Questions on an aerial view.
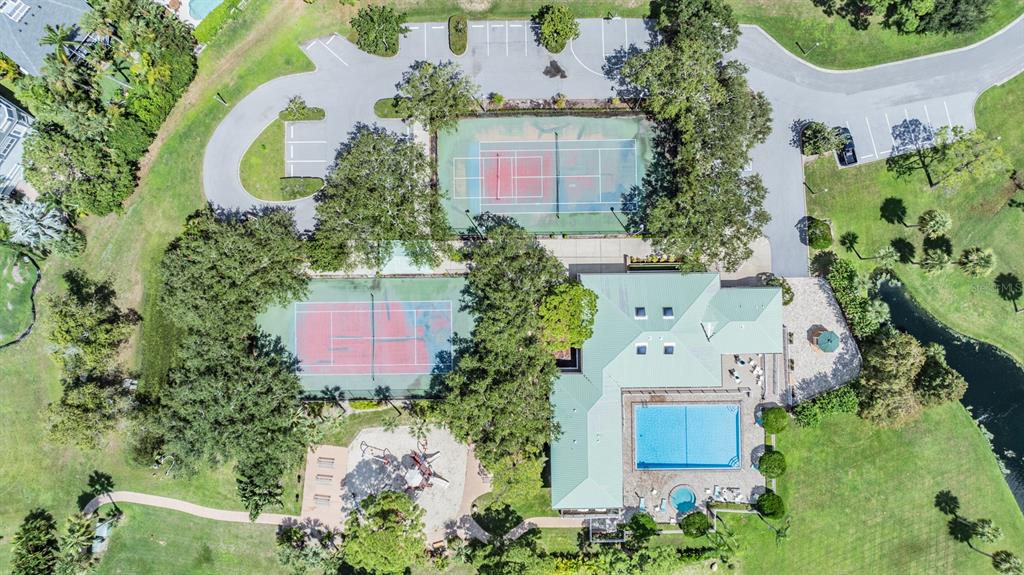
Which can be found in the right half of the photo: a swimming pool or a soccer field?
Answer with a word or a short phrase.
swimming pool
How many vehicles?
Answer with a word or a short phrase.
1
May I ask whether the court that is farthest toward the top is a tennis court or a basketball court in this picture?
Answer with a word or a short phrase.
basketball court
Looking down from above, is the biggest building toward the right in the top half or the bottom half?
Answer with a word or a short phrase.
bottom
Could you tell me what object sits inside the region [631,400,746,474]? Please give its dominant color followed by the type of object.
blue swimming pool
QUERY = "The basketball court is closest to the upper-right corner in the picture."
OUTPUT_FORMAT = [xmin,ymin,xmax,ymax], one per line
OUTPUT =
[572,19,652,78]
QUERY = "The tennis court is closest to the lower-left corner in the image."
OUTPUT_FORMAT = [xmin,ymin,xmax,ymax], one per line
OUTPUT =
[257,277,473,400]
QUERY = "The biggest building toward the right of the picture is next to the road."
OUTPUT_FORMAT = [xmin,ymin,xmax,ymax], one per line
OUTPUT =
[552,273,782,519]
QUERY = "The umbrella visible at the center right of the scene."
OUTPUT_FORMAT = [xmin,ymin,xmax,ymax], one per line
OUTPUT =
[817,330,839,352]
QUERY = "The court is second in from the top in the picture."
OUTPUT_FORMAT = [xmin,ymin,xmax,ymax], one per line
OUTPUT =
[437,115,655,234]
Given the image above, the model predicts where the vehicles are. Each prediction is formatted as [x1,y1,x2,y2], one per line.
[839,127,862,165]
